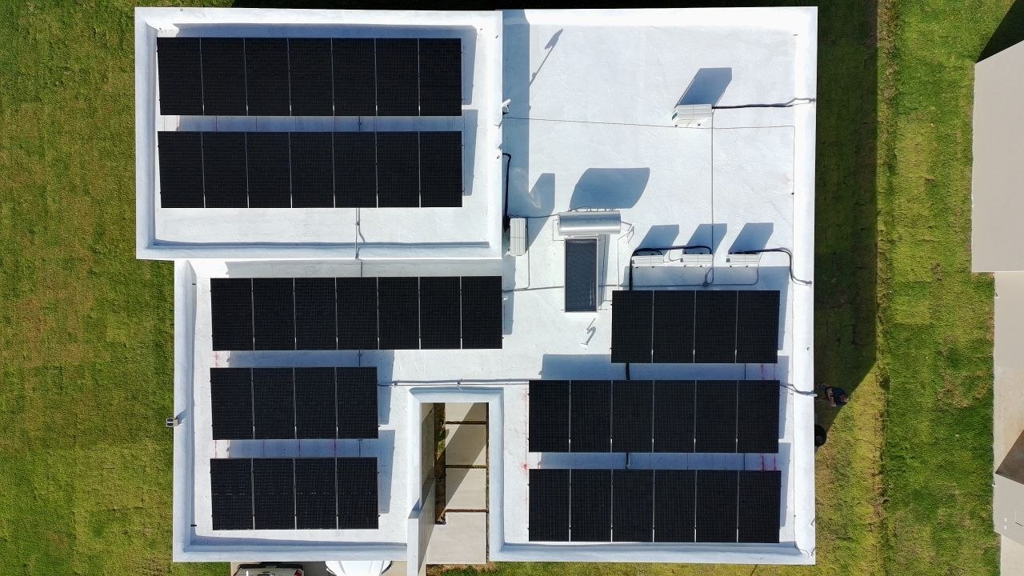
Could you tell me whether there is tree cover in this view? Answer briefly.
No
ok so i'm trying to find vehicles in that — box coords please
[231,562,304,576]
[329,562,393,576]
